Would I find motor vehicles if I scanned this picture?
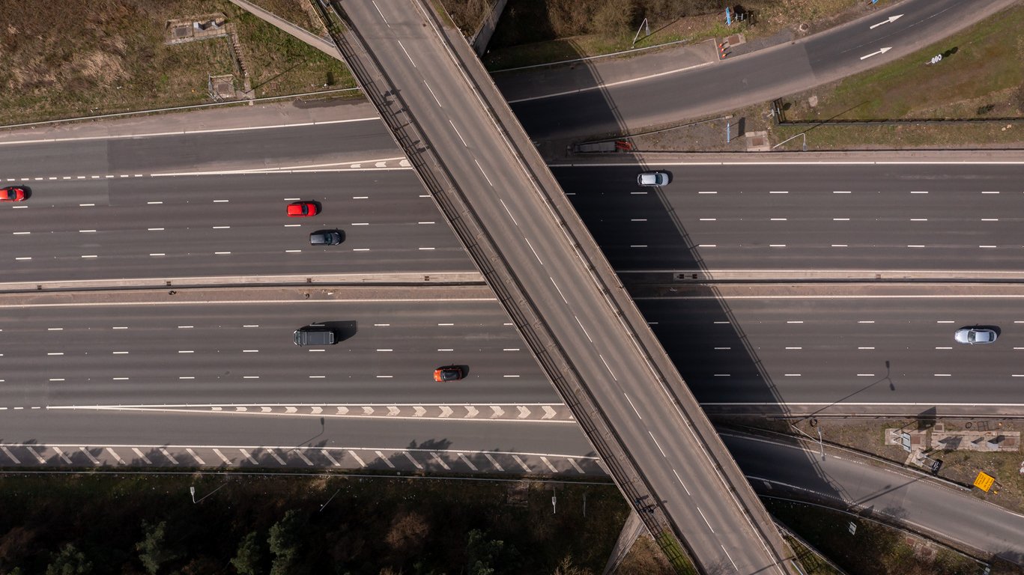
Yes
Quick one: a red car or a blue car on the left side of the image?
red car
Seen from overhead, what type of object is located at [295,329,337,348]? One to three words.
vehicle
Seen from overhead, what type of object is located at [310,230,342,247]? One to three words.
car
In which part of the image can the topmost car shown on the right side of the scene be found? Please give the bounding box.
[637,171,670,188]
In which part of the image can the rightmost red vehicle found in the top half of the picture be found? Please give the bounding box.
[288,201,318,218]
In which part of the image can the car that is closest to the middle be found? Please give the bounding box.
[434,367,463,383]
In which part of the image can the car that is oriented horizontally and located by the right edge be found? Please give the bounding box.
[955,328,996,346]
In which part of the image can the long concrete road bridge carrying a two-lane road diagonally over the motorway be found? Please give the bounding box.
[304,0,809,575]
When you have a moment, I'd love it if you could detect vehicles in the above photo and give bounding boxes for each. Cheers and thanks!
[434,367,463,383]
[310,230,342,247]
[0,186,26,203]
[295,329,337,348]
[955,328,996,346]
[637,171,670,188]
[288,201,318,218]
